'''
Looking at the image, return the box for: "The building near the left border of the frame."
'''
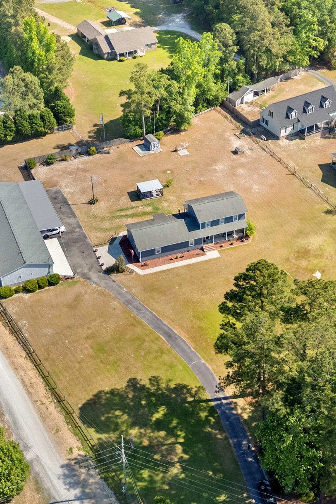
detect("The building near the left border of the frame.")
[0,180,65,285]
